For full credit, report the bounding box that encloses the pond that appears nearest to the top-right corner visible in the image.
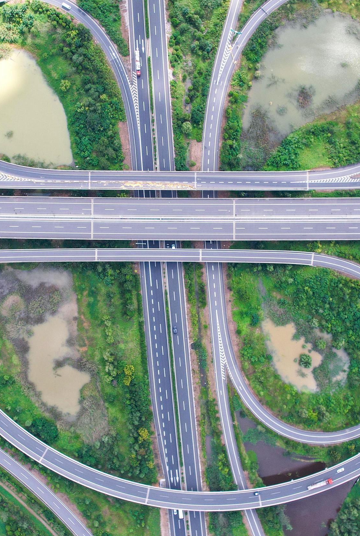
[241,8,360,151]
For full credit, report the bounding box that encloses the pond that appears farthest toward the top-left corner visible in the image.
[0,45,75,170]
